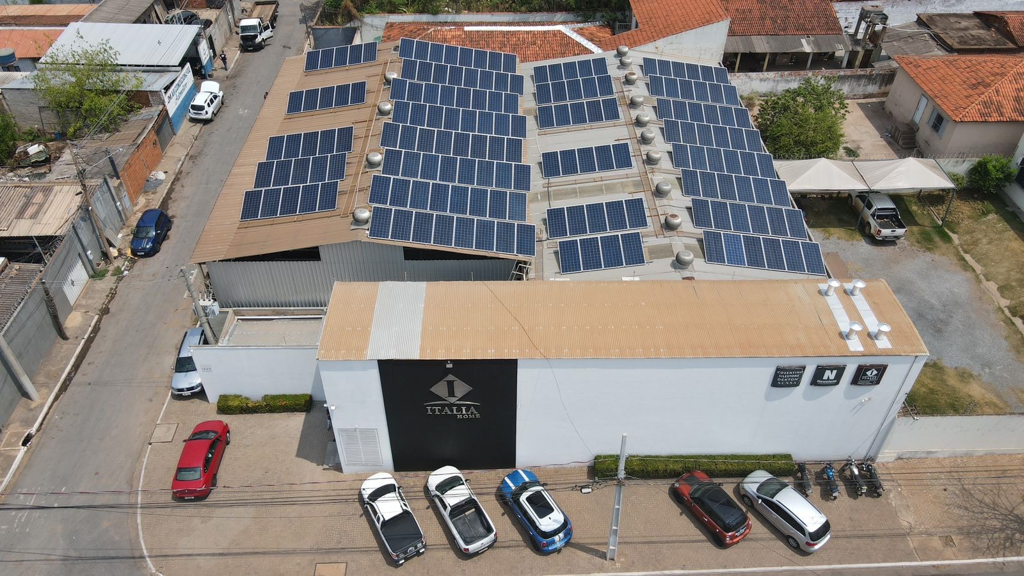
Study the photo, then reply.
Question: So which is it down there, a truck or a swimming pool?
truck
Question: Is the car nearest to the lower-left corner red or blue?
red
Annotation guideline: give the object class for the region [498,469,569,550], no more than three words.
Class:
car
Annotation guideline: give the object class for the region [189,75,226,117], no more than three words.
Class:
car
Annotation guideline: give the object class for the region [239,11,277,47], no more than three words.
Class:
truck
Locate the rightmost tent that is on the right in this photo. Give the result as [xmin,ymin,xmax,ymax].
[853,159,958,228]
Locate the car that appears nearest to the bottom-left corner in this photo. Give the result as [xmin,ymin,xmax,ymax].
[168,414,228,496]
